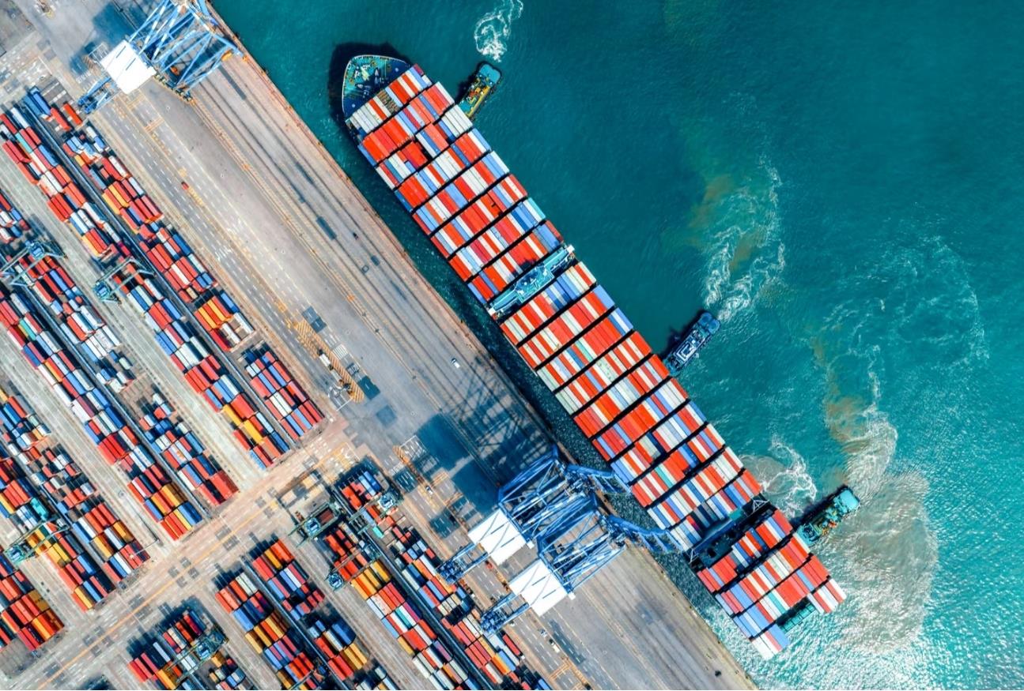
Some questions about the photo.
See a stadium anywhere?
No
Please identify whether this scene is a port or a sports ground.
port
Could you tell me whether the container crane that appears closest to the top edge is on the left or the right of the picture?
left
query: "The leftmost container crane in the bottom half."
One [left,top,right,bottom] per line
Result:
[2,509,84,570]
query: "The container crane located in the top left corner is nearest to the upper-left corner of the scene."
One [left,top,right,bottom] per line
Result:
[70,0,251,126]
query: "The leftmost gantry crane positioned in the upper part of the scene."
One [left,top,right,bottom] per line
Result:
[0,242,74,298]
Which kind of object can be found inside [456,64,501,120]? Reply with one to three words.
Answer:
boat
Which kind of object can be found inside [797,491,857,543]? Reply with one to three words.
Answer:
boat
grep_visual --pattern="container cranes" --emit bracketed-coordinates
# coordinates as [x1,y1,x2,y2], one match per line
[479,488,683,634]
[84,256,162,312]
[2,509,84,570]
[439,440,633,584]
[70,0,251,126]
[0,242,74,298]
[158,620,234,691]
[347,475,410,537]
[321,531,387,596]
[284,489,353,552]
